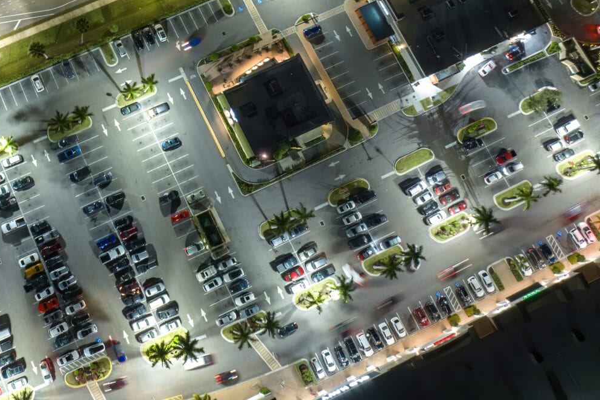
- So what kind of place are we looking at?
parking lot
